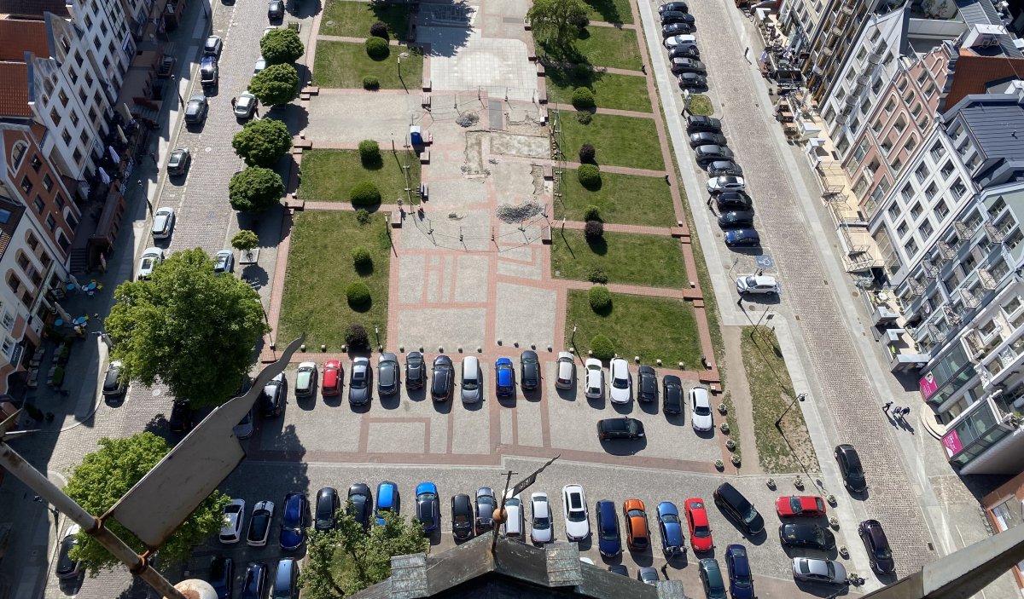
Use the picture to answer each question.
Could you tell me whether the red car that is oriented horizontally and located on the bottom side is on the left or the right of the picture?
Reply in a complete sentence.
It is on the right.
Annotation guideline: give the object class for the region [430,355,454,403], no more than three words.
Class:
car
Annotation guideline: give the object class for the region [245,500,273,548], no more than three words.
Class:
car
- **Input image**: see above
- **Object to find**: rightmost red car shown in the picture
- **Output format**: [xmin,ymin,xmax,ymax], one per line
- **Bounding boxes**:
[774,493,828,519]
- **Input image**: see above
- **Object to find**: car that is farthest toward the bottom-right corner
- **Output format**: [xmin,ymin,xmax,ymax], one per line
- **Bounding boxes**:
[858,520,896,575]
